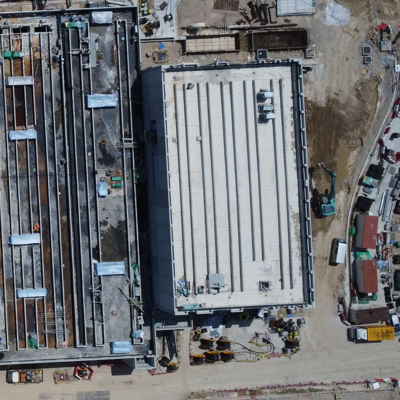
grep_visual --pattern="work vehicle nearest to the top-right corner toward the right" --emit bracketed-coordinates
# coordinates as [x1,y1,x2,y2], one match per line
[315,168,339,222]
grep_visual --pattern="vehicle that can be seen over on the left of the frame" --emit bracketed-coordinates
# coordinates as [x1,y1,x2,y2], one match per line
[7,369,42,386]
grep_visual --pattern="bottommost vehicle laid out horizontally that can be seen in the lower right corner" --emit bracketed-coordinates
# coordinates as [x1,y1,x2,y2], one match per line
[347,326,398,343]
